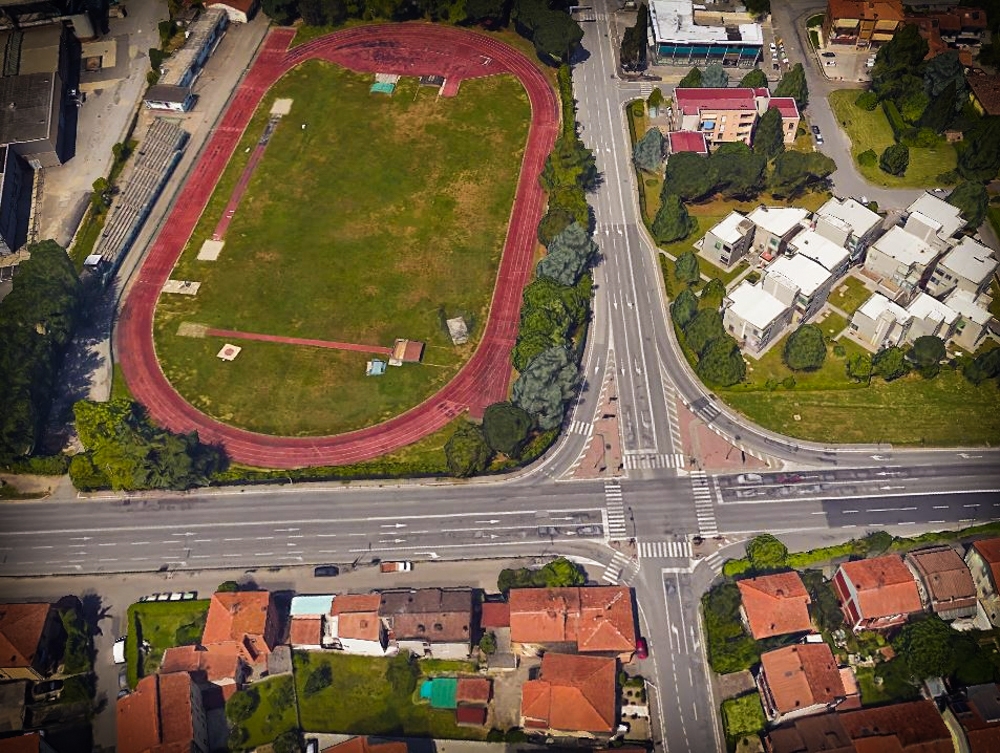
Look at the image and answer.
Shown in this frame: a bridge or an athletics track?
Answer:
athletics track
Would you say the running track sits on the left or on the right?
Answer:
left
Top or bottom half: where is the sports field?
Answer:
top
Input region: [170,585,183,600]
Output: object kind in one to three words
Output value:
vehicle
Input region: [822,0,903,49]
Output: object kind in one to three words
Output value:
house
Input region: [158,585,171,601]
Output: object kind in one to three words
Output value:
vehicle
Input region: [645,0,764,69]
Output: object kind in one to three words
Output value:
building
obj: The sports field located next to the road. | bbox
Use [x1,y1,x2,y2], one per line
[153,59,530,437]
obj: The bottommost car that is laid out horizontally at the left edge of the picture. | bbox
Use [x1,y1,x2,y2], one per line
[34,683,62,695]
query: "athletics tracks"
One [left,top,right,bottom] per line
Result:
[116,23,561,469]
